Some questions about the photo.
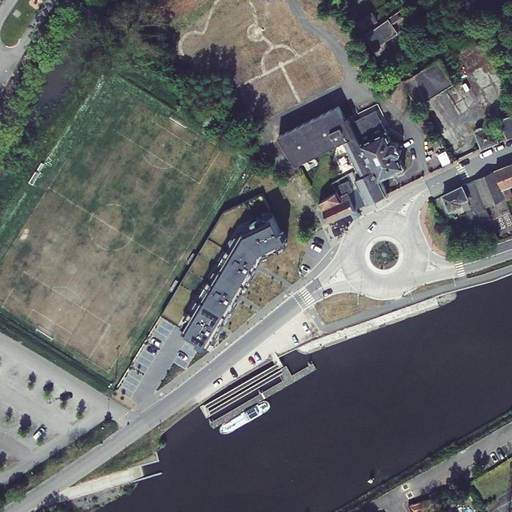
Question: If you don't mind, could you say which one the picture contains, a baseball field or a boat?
boat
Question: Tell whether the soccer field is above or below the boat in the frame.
above it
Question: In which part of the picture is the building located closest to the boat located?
center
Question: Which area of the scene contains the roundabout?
right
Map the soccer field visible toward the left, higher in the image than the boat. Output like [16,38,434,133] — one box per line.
[0,76,249,380]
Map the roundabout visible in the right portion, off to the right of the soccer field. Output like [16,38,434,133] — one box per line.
[316,182,458,302]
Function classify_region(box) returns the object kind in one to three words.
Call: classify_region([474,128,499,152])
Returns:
house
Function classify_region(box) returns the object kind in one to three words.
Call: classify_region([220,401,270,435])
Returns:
boat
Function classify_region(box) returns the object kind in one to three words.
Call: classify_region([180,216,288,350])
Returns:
building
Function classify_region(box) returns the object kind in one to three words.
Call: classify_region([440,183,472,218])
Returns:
house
